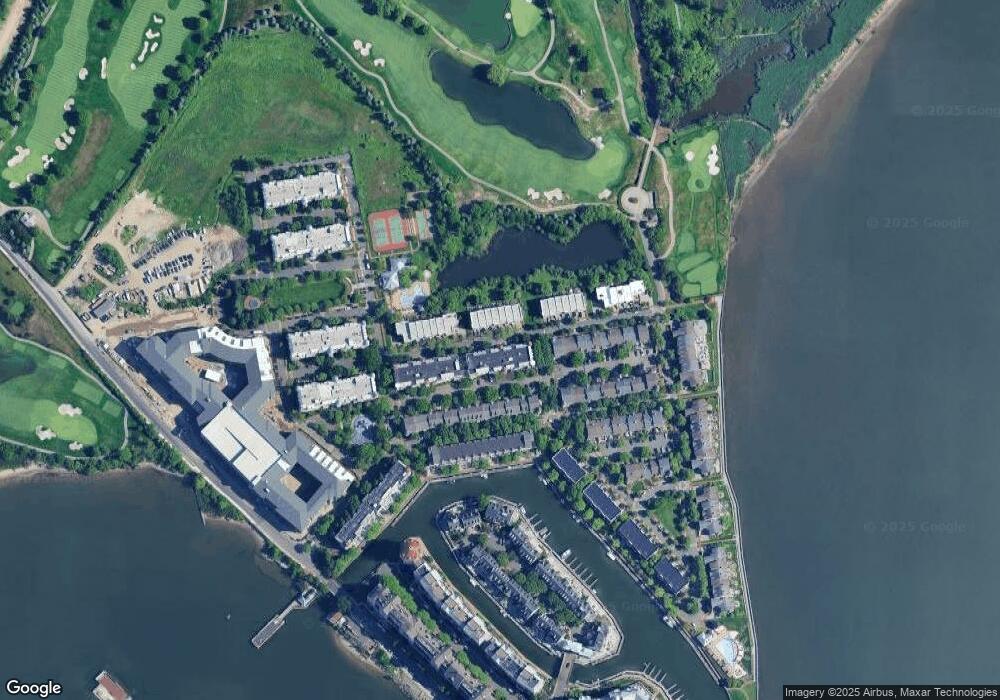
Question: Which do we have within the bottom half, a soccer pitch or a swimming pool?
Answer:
swimming pool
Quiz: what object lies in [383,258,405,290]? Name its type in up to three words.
building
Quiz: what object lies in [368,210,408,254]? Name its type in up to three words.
tennis court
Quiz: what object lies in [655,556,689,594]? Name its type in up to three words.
building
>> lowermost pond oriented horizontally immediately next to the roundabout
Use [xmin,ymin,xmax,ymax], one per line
[438,221,626,290]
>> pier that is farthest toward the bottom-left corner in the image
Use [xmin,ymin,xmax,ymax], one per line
[253,585,317,647]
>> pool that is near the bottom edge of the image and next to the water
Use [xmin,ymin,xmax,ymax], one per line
[706,626,746,678]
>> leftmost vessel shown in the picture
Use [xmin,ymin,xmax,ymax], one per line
[98,667,135,700]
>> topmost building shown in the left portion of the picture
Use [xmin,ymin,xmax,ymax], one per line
[263,170,344,209]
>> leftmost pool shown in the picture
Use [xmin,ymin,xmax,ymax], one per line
[391,280,431,314]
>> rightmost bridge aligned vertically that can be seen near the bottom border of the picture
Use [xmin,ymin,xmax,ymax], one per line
[553,650,577,700]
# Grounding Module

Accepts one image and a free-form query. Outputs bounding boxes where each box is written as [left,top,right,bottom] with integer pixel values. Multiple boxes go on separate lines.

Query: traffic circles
[616,183,655,219]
